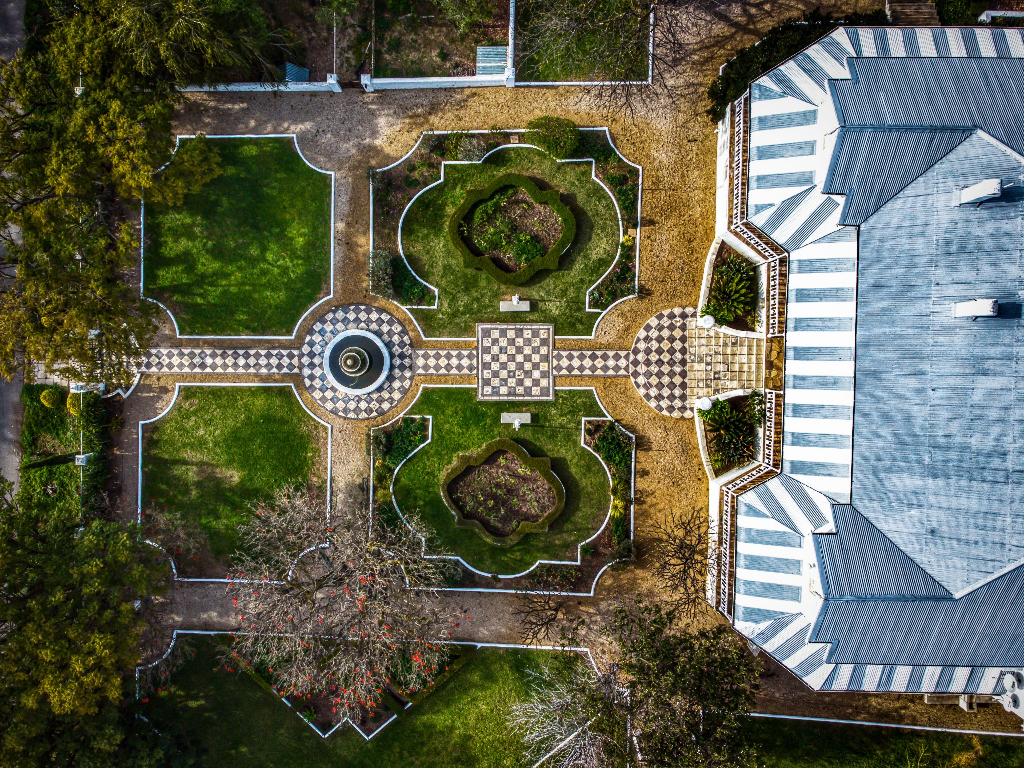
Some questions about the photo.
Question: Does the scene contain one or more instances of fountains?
Yes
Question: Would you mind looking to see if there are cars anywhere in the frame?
No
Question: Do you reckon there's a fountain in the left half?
Yes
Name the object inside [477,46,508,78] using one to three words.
shed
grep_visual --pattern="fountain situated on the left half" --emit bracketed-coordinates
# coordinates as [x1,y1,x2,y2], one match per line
[324,329,390,395]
